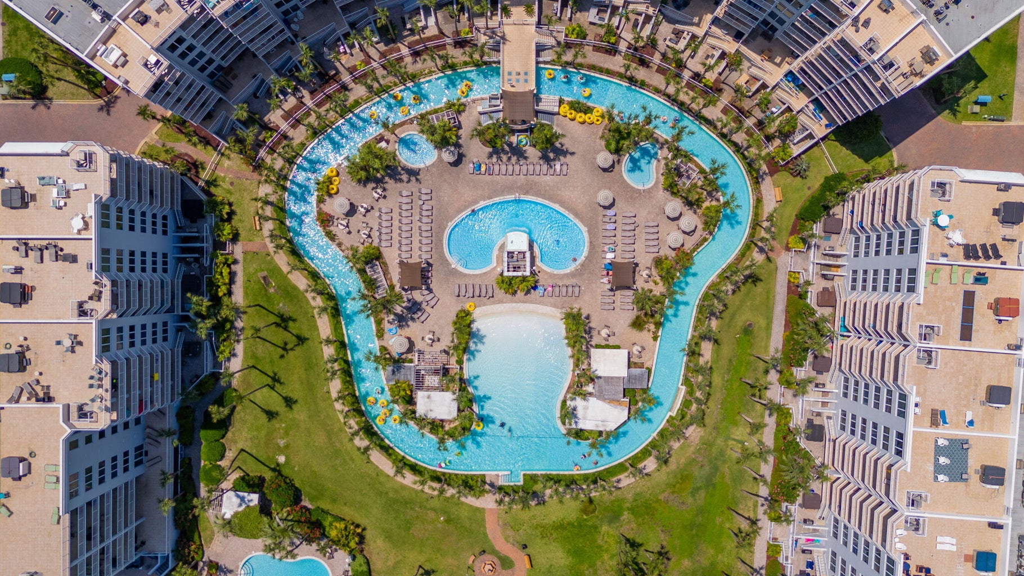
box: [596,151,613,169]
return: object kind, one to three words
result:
umbrella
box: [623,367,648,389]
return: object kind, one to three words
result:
shed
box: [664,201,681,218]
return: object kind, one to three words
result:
umbrella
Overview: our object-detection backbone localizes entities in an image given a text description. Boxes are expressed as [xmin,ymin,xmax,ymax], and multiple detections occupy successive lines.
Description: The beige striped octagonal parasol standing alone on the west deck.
[333,197,350,214]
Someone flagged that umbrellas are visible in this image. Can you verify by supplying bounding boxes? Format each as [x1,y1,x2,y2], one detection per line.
[664,201,681,218]
[666,231,684,249]
[596,151,613,169]
[678,215,696,233]
[596,189,614,206]
[333,197,350,214]
[441,146,458,163]
[392,335,410,353]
